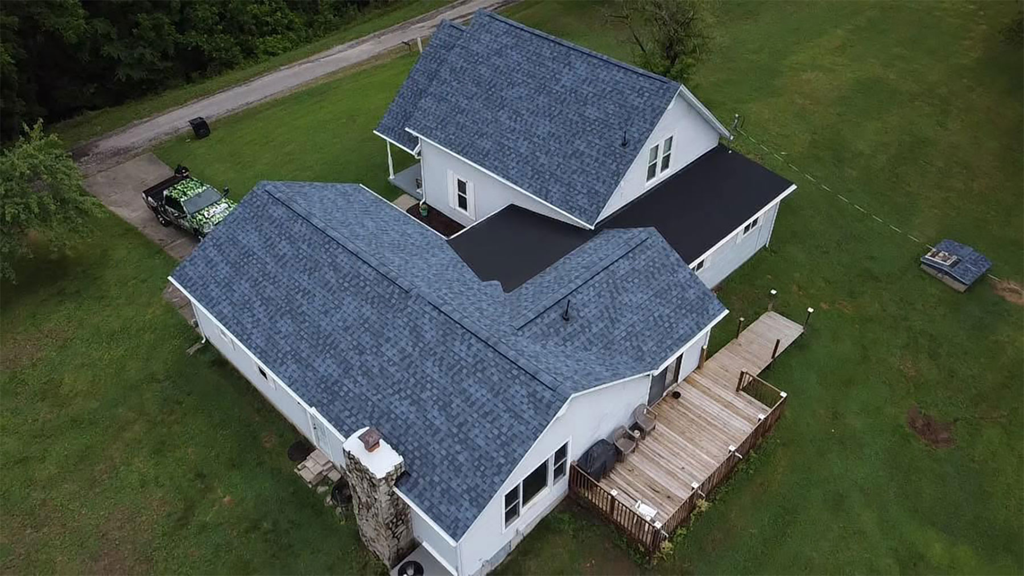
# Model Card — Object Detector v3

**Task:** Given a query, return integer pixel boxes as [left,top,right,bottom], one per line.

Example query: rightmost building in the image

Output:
[914,241,995,294]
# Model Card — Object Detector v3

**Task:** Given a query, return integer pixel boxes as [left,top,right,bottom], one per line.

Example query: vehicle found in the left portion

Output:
[139,178,233,244]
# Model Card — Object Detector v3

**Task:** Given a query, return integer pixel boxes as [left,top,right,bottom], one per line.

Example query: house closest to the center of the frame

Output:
[164,8,800,576]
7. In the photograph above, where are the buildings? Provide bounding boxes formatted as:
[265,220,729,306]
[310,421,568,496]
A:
[914,241,995,294]
[164,8,800,576]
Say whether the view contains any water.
No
